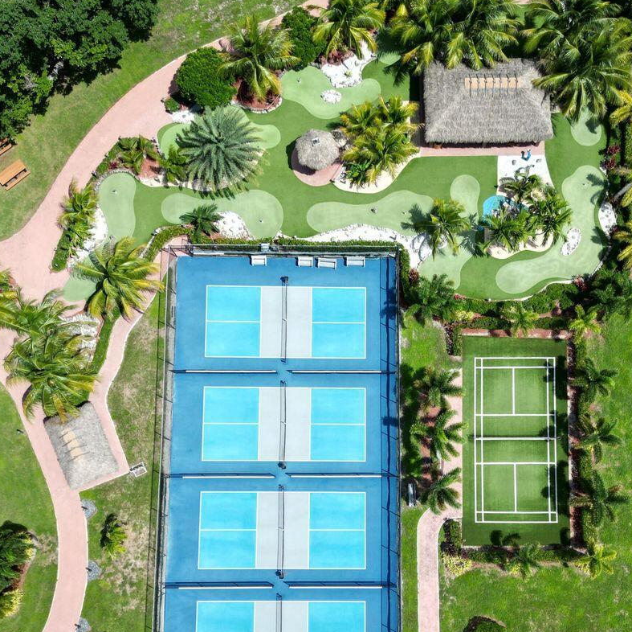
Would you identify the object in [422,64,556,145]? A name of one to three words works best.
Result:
shed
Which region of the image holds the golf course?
top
